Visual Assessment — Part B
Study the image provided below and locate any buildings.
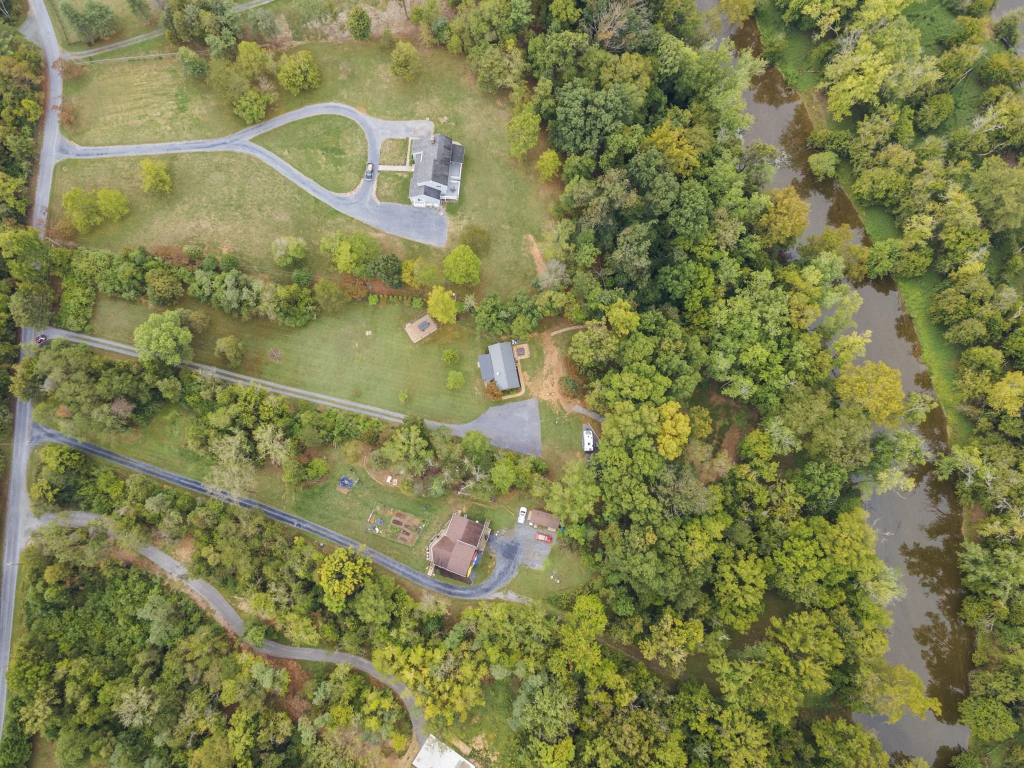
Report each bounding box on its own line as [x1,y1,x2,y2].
[428,509,491,577]
[478,342,520,392]
[411,732,475,768]
[407,133,465,208]
[526,509,560,533]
